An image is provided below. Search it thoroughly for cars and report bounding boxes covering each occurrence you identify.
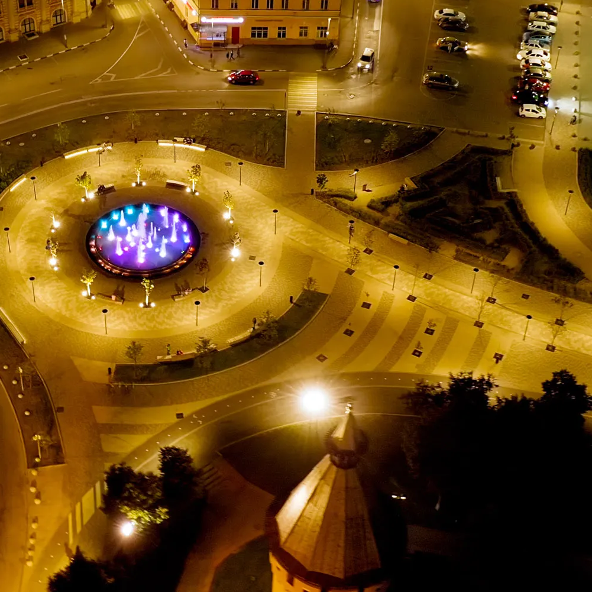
[228,71,262,85]
[521,76,549,92]
[520,57,553,70]
[524,29,551,42]
[437,38,469,53]
[528,2,559,14]
[513,86,548,104]
[527,20,557,33]
[433,8,465,21]
[518,48,551,61]
[358,47,375,72]
[521,38,551,51]
[518,103,547,119]
[425,73,458,89]
[520,67,553,81]
[528,10,559,24]
[439,18,470,31]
